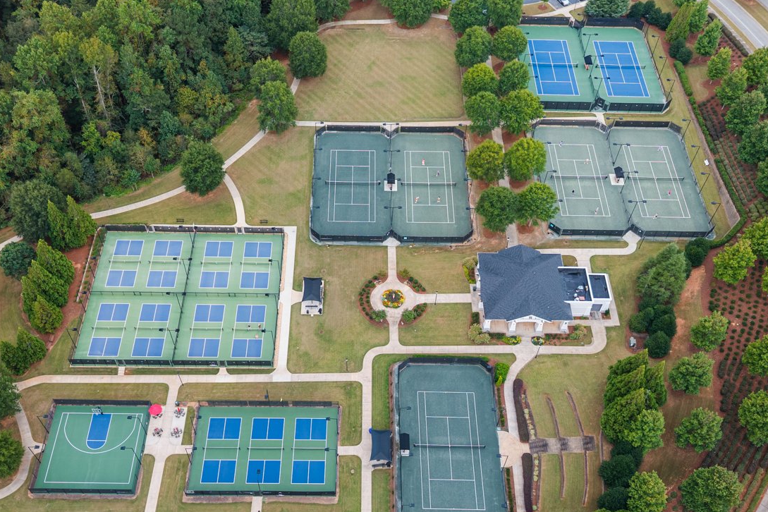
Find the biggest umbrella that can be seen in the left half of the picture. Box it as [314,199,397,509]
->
[147,403,161,415]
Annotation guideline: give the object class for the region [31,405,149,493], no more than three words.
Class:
basketball court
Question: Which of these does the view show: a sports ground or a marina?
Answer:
sports ground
